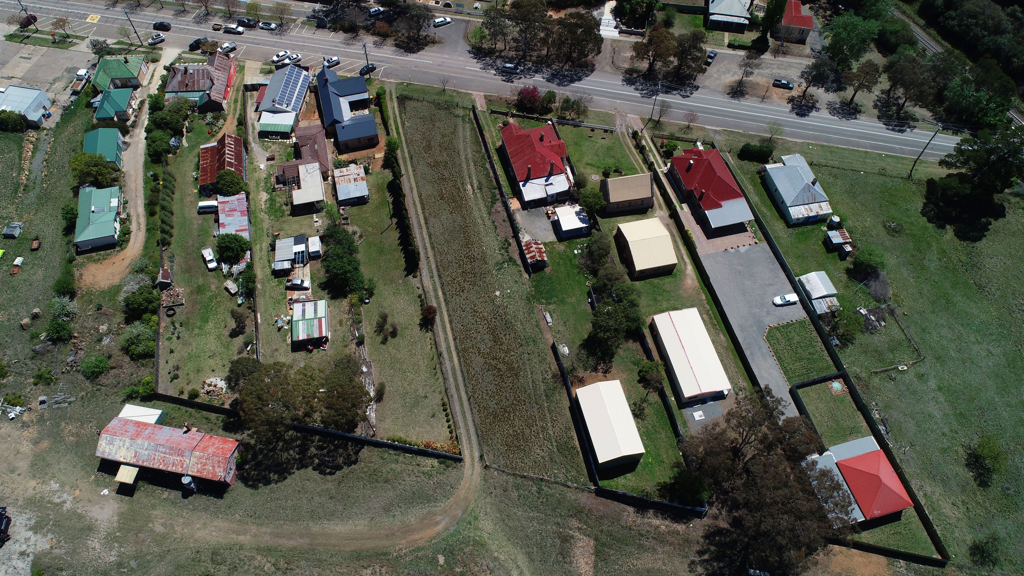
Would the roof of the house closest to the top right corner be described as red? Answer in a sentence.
Yes, the roof of the house closest to the top right corner is red.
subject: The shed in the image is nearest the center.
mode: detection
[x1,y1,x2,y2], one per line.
[521,239,548,268]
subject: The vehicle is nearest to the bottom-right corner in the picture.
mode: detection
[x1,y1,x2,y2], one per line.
[771,293,803,308]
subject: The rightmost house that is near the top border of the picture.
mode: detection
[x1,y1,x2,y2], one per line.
[780,0,814,41]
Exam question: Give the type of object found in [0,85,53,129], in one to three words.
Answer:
building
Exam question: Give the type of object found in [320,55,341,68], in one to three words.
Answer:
vehicle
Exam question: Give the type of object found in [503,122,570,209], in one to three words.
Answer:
house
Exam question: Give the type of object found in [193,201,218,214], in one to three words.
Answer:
vehicle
